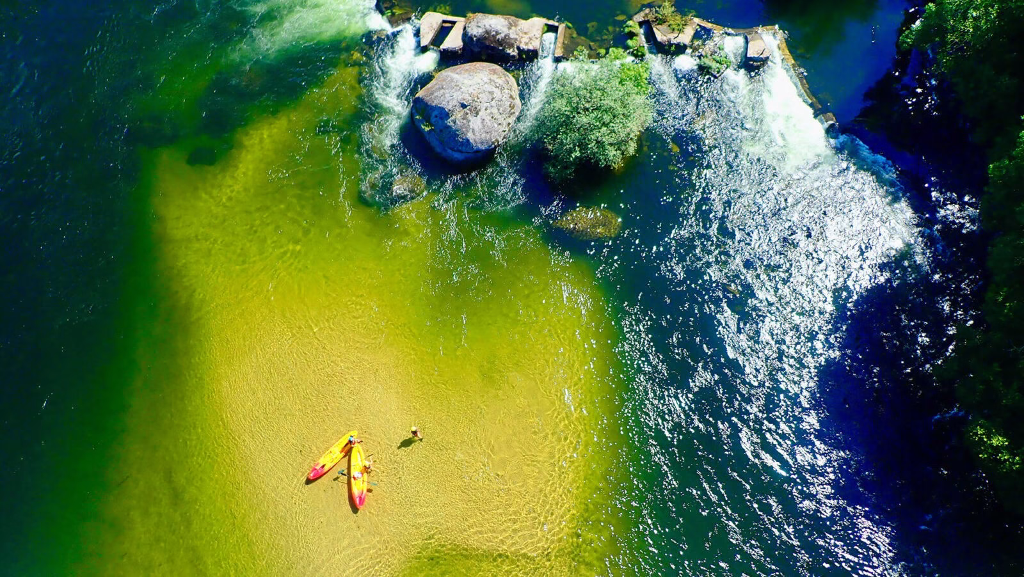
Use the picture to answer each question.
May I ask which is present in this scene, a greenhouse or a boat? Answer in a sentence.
This aerial view contains a boat.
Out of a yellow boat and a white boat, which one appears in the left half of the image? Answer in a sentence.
What appears in the left half of the image is a yellow boat.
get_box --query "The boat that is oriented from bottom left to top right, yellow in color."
[309,432,356,480]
